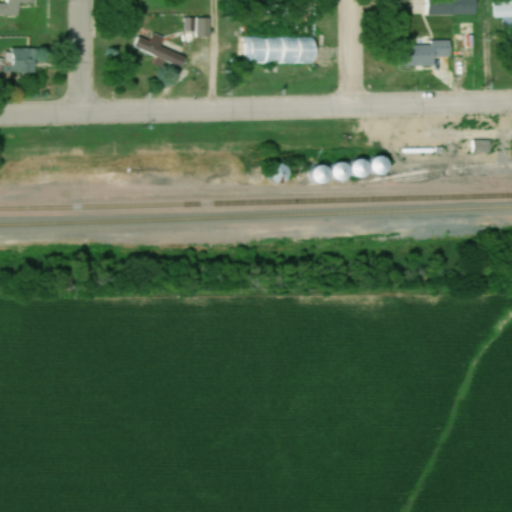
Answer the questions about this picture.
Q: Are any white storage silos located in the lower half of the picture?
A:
No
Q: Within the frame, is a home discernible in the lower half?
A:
No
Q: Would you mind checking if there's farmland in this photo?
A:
Yes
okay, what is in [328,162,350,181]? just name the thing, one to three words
silo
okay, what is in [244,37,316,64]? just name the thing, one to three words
shed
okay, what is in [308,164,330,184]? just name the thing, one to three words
silo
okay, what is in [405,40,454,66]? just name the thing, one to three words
house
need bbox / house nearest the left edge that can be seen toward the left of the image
[2,48,52,74]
